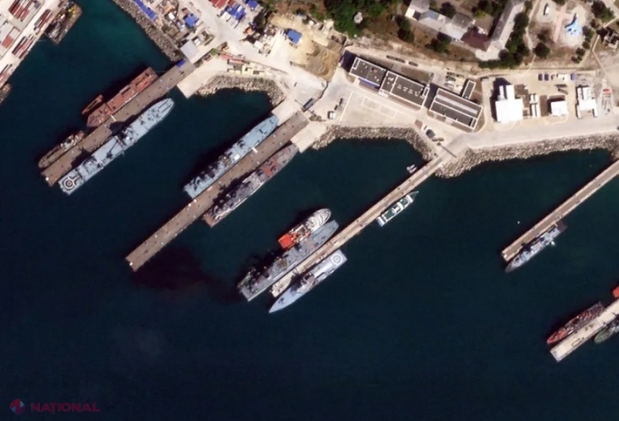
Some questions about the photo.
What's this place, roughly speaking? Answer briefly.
port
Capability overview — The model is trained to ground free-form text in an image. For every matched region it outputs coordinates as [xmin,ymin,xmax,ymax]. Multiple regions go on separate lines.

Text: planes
[565,13,579,36]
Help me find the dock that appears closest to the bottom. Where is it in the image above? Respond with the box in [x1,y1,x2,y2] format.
[549,299,619,362]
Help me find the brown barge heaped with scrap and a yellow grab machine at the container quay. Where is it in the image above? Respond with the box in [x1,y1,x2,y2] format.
[46,0,82,43]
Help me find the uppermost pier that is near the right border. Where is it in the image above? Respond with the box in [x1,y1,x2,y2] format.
[502,160,619,261]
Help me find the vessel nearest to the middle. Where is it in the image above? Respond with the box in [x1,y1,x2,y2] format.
[278,210,330,250]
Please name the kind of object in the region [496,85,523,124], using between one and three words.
building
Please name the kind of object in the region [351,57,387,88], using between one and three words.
building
